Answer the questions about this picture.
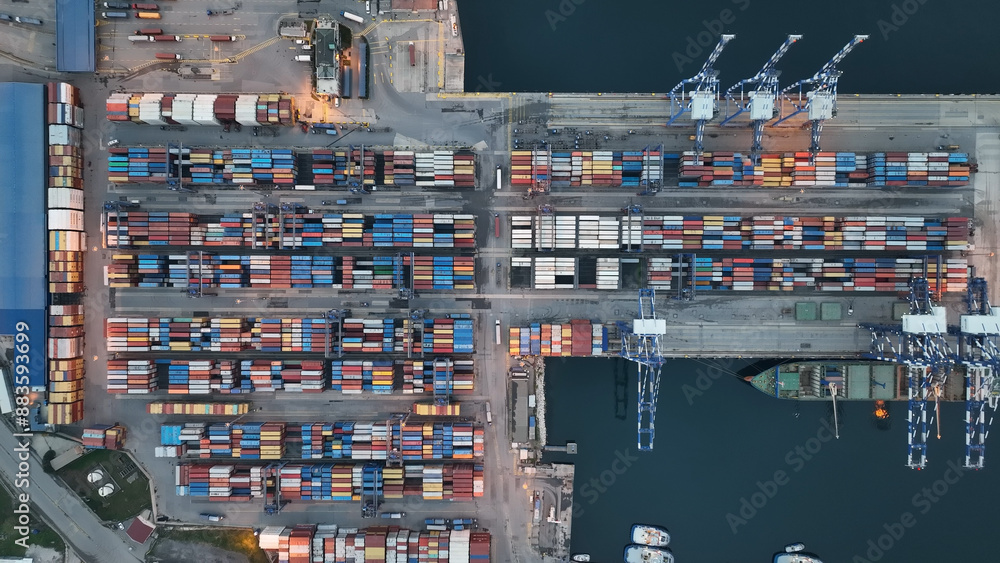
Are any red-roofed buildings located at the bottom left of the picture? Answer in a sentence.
Yes, a red-roofed building shows up at the bottom left of the picture.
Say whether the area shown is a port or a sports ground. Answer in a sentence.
This looks like a port.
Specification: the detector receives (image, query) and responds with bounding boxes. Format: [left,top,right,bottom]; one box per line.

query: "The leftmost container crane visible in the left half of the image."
[103,203,148,250]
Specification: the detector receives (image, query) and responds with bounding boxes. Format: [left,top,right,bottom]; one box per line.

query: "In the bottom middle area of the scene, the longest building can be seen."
[512,379,528,443]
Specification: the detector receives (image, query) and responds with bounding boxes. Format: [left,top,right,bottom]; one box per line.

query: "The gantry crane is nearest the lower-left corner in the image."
[265,456,302,512]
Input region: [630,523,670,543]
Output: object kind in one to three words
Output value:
boat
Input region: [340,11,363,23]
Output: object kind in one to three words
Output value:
vehicle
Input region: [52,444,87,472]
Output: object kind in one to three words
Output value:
shed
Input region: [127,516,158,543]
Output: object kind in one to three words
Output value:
house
